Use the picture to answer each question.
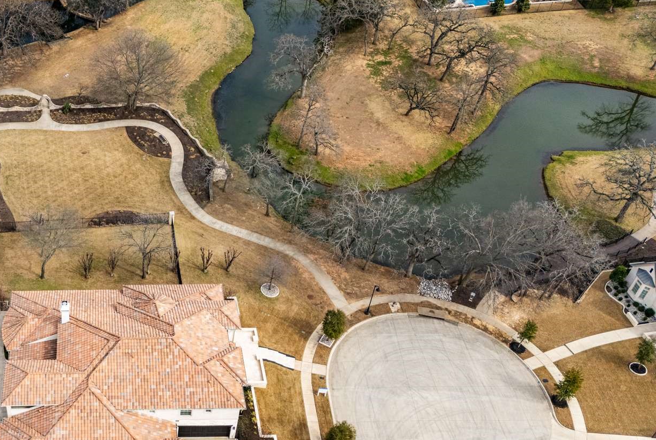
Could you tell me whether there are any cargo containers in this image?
No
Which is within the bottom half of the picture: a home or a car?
home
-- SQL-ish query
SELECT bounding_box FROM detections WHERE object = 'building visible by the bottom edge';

[0,284,250,440]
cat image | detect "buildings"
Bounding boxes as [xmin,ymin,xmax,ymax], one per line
[624,236,656,308]
[0,284,250,440]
